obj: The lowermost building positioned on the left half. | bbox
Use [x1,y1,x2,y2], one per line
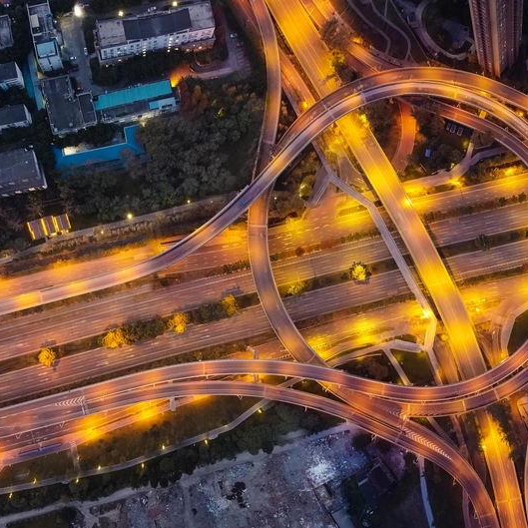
[27,215,74,240]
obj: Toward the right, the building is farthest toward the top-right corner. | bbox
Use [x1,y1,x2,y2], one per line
[475,0,523,75]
